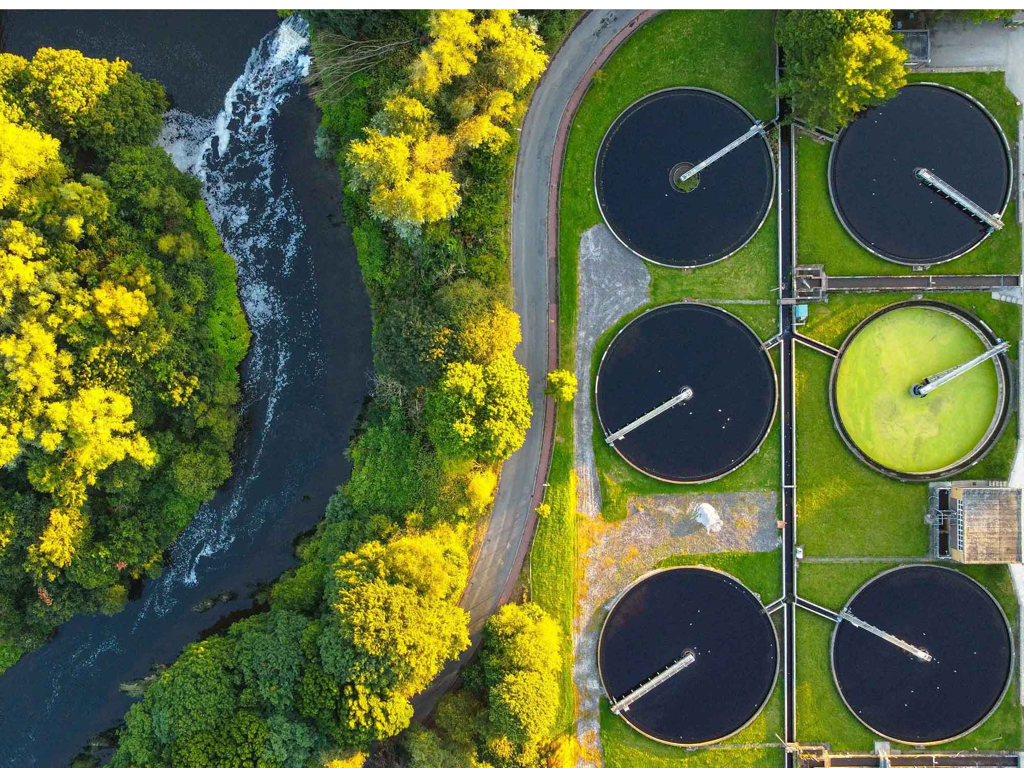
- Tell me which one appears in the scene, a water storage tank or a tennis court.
water storage tank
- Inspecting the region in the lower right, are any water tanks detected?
Yes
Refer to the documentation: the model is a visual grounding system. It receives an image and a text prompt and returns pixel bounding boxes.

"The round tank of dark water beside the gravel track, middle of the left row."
[595,301,778,483]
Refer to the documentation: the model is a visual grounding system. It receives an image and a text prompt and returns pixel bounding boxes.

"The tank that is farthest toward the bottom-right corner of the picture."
[830,563,1014,747]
